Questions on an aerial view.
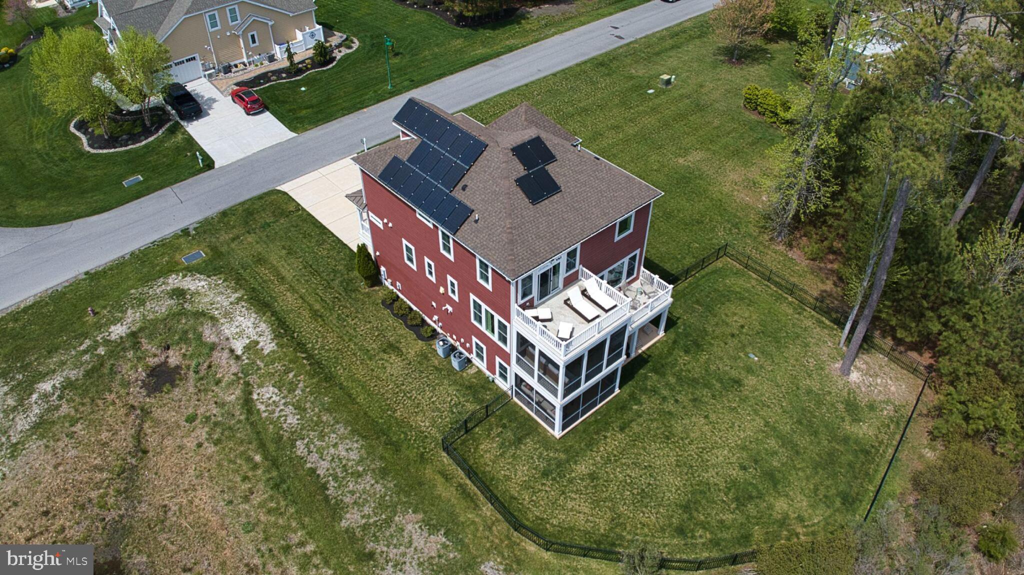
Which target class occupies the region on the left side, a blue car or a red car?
red car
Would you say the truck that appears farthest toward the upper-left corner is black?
Yes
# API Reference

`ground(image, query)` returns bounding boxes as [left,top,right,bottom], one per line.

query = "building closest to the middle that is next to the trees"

[346,96,673,438]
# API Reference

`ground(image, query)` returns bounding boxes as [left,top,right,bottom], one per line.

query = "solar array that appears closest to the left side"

[378,99,487,233]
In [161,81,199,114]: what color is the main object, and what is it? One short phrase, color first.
black truck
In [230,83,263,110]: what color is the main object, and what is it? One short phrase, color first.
red car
